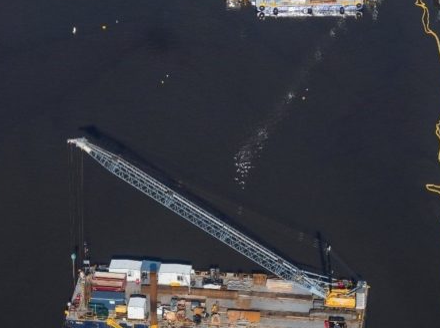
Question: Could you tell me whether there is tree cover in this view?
No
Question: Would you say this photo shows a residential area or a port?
port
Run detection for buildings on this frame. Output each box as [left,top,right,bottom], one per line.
[157,262,194,287]
[109,260,144,284]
